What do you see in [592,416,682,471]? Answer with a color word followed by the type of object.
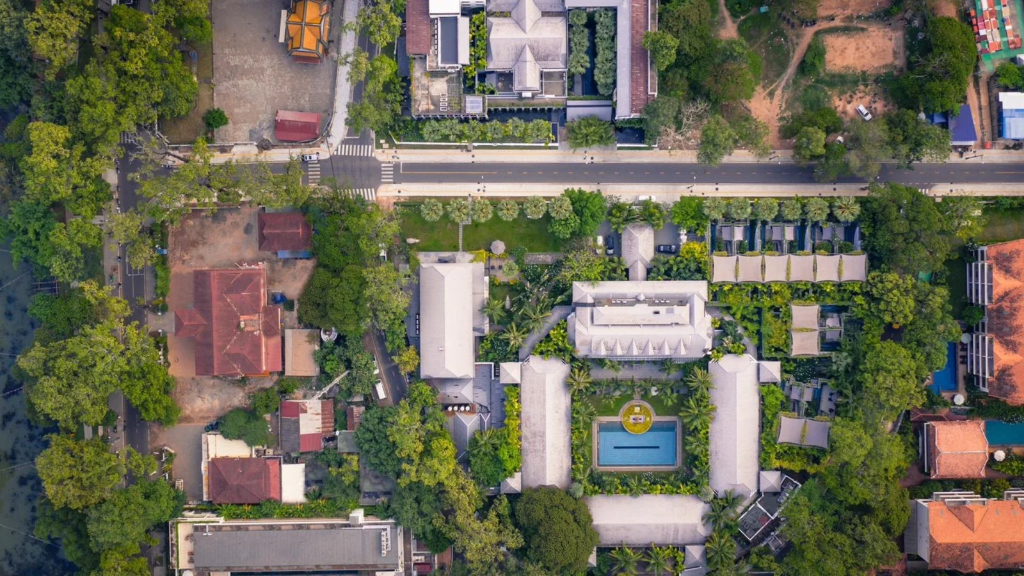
blue swimming pool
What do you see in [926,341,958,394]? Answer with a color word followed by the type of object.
blue swimming pool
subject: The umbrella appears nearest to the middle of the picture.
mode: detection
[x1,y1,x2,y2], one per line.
[490,240,504,254]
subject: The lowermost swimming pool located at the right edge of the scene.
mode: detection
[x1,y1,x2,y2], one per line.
[983,418,1024,447]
